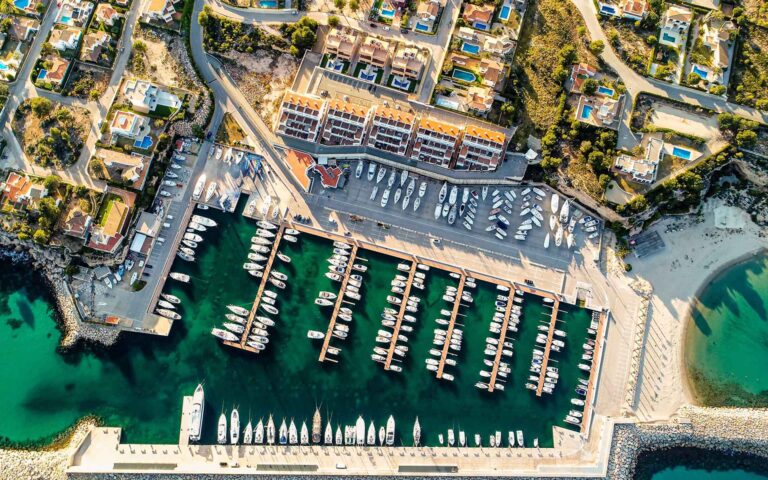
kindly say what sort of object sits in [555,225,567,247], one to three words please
boat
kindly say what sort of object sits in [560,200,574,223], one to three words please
boat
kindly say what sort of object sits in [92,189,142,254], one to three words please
house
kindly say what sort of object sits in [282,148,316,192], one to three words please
building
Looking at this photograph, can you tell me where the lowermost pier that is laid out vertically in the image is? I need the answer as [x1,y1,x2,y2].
[179,395,193,444]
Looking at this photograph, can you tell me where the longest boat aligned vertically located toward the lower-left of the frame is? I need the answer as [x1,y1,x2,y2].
[188,375,204,442]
